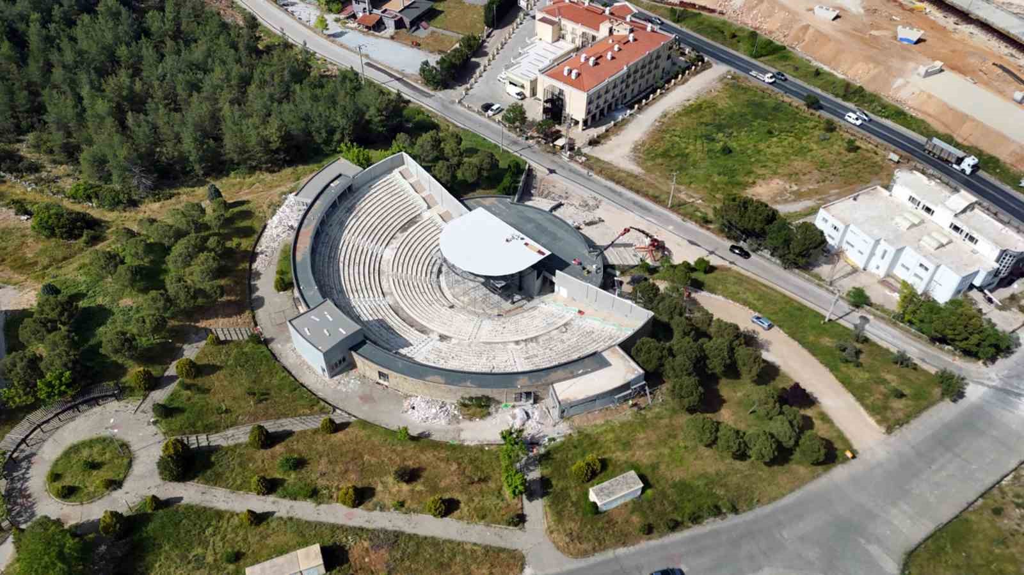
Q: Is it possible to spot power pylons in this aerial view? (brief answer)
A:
Yes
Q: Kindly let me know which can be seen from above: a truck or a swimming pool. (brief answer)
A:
truck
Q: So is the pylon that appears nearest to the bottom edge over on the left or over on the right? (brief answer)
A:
right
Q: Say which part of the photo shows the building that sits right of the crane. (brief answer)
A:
right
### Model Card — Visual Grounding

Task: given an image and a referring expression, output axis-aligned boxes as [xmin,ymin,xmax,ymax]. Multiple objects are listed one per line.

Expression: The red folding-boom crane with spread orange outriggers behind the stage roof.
[595,224,668,264]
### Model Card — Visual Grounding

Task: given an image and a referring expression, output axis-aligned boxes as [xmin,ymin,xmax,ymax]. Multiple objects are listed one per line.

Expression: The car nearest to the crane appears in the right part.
[729,242,752,258]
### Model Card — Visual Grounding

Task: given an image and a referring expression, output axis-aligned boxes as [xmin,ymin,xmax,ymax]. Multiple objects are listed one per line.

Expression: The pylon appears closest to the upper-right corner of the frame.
[825,246,852,288]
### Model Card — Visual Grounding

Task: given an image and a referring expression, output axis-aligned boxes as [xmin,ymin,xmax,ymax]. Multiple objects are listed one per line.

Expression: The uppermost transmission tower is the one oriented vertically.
[562,116,574,156]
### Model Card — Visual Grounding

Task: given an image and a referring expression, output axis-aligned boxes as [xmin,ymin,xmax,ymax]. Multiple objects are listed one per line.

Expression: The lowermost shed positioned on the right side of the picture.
[588,470,644,511]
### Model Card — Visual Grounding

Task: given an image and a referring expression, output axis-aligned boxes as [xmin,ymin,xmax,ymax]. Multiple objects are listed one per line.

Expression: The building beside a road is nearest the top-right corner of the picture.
[814,168,1024,305]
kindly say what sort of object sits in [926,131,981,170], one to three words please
truck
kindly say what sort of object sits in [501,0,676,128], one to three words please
building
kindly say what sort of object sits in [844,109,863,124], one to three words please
vehicle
